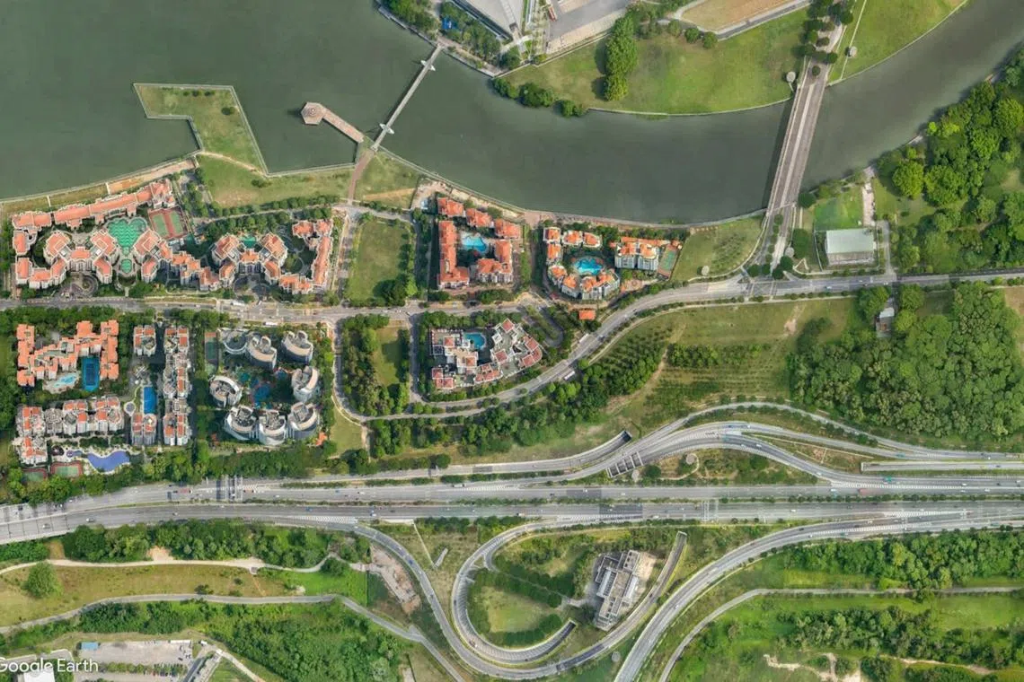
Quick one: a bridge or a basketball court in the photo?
bridge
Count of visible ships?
none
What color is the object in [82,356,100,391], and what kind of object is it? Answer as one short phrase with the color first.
blue swimming pool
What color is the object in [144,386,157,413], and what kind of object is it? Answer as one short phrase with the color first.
blue swimming pool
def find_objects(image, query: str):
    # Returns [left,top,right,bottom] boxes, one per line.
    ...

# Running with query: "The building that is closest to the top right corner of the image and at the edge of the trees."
[826,229,876,270]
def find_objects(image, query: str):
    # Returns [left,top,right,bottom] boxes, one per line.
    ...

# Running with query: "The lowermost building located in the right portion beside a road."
[594,551,639,631]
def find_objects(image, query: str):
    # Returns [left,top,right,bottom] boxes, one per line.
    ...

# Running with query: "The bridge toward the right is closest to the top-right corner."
[766,82,829,217]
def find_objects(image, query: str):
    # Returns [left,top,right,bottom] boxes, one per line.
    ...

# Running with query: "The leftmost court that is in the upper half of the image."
[148,208,186,239]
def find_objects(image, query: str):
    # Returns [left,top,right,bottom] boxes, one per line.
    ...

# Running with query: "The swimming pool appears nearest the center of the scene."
[464,331,486,350]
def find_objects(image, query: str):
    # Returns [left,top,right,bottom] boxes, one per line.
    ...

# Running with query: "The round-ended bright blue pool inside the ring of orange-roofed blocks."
[574,256,605,277]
